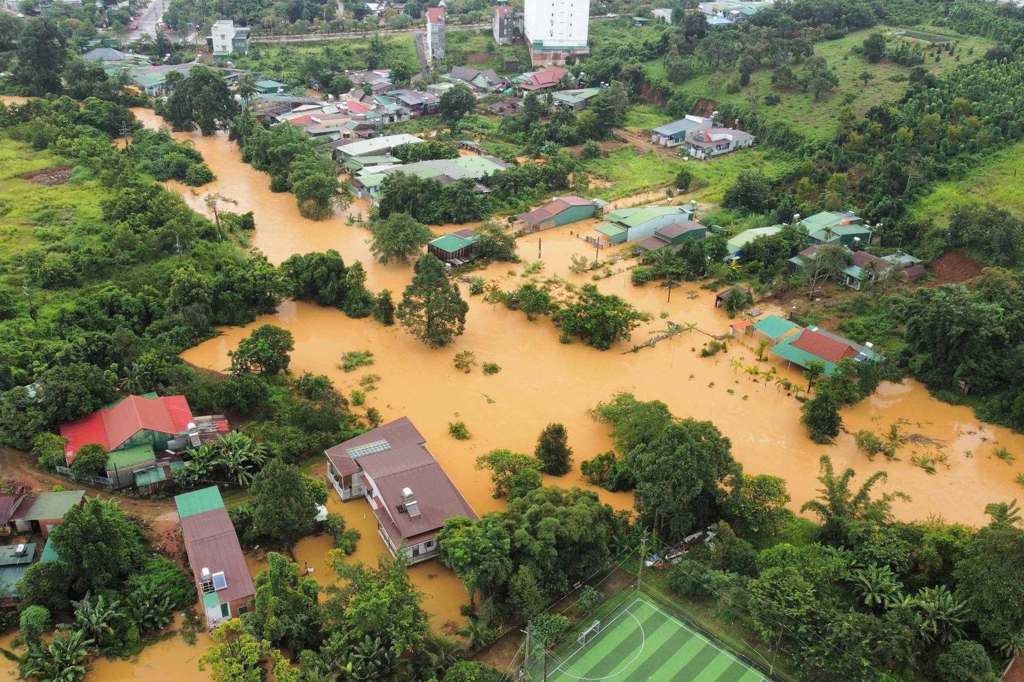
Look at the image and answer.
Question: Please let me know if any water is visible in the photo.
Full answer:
Yes, water shows up in the scene.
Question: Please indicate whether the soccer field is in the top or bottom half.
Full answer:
The soccer field sits in the bottom half of the picture.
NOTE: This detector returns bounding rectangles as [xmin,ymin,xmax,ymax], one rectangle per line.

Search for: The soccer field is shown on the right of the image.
[524,586,788,682]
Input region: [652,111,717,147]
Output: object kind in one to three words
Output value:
house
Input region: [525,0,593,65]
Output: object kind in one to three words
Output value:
building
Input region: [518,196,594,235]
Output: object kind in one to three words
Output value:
barn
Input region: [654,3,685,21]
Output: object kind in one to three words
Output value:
house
